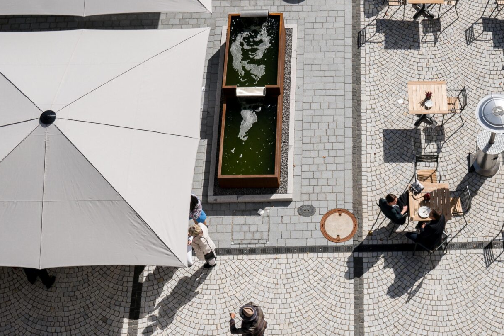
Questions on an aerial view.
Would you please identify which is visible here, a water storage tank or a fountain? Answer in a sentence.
The image shows a fountain.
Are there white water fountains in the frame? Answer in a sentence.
No, there isn't any white water fountain down there.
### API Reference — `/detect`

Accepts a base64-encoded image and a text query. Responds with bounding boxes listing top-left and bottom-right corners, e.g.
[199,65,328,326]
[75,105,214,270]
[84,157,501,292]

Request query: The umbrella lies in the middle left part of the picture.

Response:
[0,29,211,271]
